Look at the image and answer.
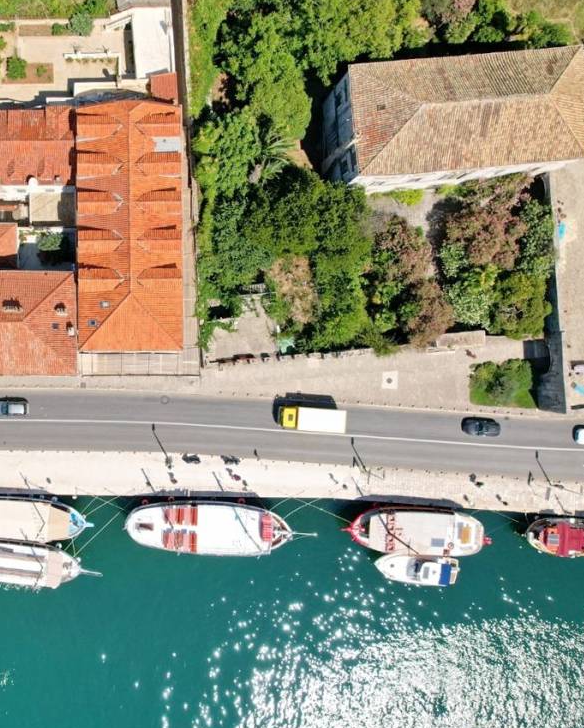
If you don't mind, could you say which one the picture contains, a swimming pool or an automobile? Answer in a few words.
automobile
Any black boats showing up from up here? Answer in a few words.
No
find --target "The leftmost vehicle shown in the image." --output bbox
[0,398,29,417]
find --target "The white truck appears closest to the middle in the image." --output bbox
[277,405,348,433]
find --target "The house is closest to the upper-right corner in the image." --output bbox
[326,44,584,194]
